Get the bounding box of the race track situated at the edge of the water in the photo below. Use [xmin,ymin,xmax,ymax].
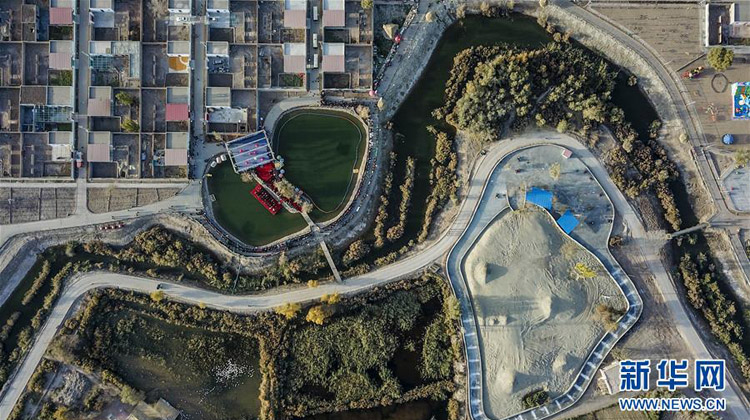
[448,162,639,420]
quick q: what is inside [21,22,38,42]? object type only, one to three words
shed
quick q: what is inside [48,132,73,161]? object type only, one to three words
house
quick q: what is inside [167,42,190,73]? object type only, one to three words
house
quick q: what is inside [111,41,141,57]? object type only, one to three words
shed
